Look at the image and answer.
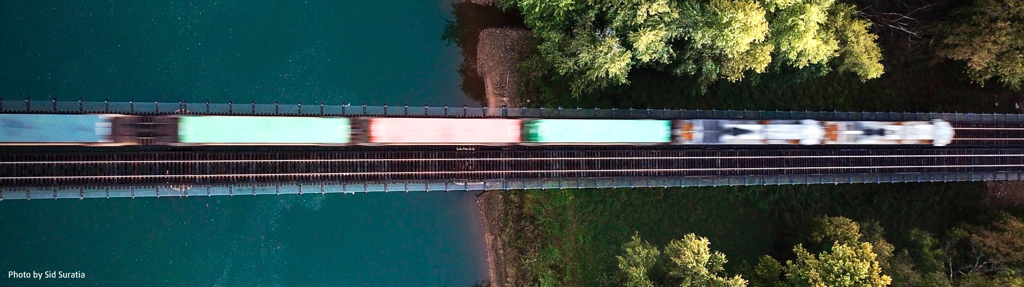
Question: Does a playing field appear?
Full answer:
No, this view has no playing field in it.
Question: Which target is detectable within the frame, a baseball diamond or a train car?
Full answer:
The one in the frame is a train car.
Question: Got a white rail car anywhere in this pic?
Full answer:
Yes, there is a white rail car in the image.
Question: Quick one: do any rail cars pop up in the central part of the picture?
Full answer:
Yes, in the central part of the picture there is a rail car.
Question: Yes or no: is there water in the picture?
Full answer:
Yes, water shows up in the scene.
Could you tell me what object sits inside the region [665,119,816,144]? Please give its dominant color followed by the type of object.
white rail car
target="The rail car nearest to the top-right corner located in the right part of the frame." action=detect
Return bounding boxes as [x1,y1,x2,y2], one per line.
[813,120,947,146]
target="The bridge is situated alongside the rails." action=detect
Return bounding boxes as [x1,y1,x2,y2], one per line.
[0,96,1024,201]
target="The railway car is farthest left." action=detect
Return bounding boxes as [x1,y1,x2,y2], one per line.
[0,111,152,144]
